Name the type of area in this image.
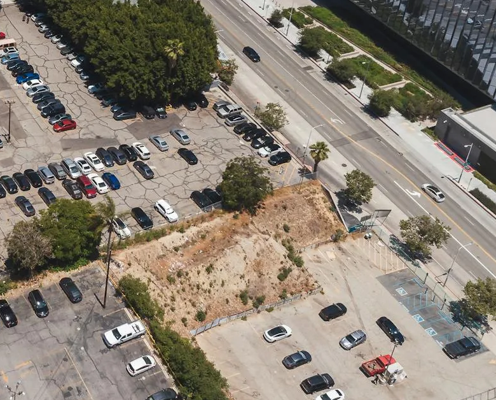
parking lot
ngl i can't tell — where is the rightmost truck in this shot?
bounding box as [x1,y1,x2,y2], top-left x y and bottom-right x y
[439,332,485,363]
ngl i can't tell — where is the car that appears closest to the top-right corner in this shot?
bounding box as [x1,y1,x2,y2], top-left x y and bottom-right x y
[417,181,449,206]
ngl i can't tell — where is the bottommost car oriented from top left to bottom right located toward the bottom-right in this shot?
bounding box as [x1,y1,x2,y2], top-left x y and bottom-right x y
[371,315,410,349]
